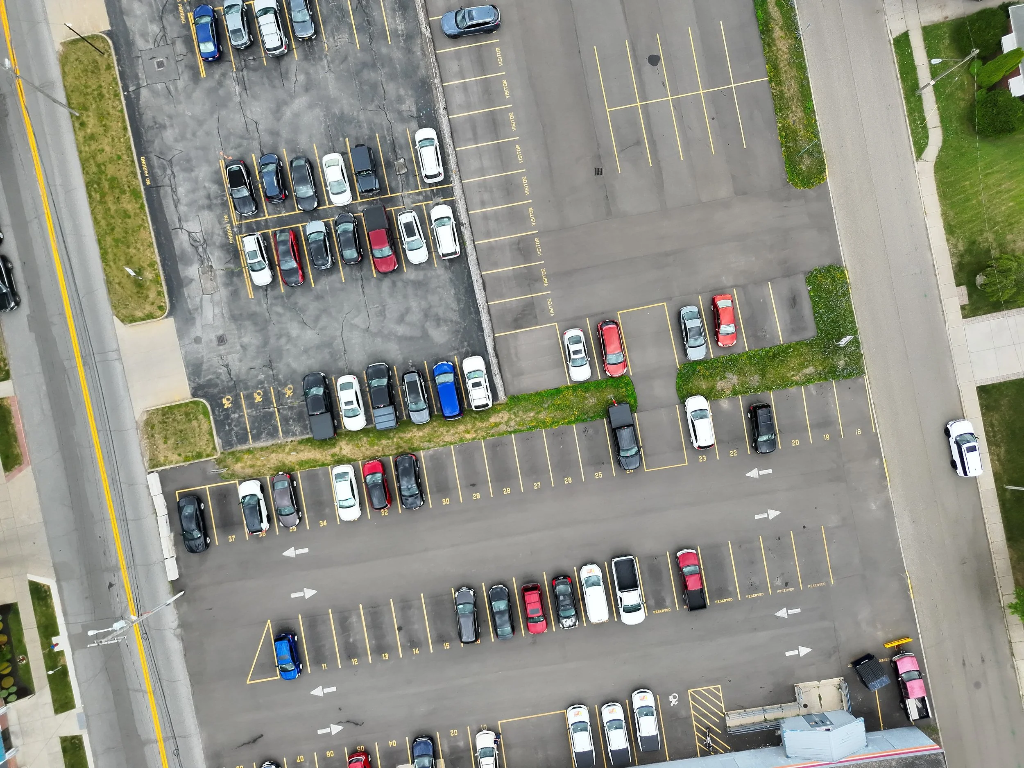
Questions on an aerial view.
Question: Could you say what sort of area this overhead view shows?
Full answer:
The area seen from above is a parking lot.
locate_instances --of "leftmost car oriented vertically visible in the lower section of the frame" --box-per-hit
[177,494,209,553]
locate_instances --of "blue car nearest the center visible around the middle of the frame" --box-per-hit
[433,361,465,422]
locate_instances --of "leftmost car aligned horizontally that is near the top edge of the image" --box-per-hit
[440,5,502,38]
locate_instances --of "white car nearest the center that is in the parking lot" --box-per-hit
[463,355,493,412]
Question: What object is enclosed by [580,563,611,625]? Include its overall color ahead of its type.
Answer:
white van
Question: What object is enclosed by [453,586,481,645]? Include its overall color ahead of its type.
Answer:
gray car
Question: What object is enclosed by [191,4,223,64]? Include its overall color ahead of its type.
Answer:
blue car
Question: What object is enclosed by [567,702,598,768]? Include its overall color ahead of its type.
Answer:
white truck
